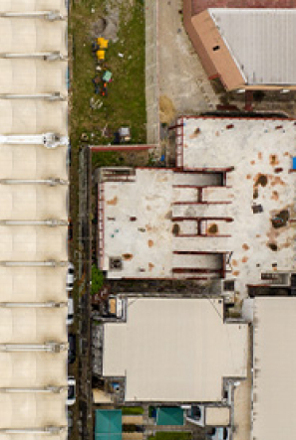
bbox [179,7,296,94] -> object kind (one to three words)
building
